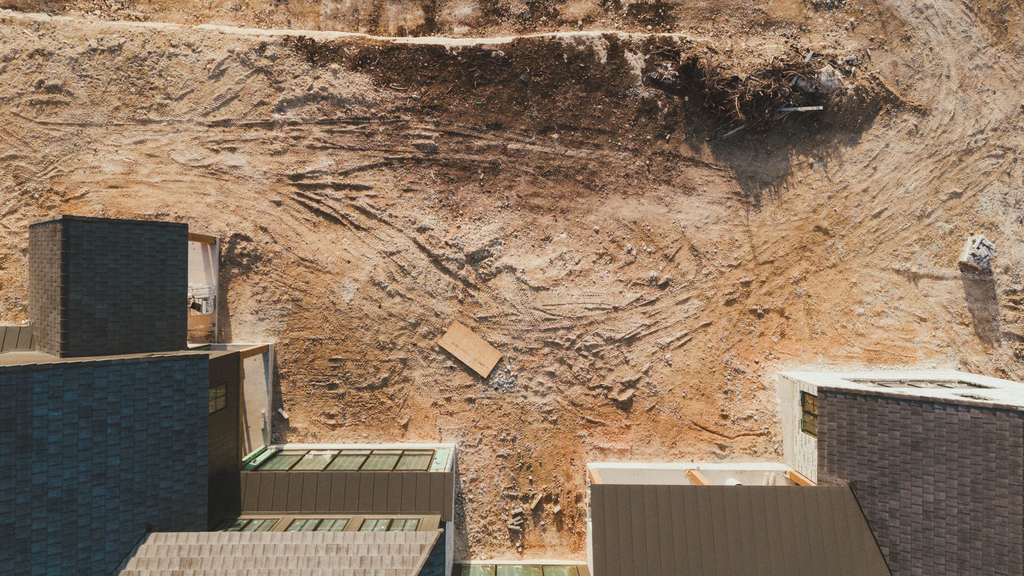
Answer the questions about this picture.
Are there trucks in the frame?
No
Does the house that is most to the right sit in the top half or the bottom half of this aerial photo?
bottom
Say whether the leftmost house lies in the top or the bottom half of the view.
bottom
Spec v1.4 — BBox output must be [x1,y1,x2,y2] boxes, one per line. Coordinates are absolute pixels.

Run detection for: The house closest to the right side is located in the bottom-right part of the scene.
[586,372,1024,576]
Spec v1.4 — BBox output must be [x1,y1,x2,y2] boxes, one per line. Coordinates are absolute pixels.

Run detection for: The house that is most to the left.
[0,213,455,576]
